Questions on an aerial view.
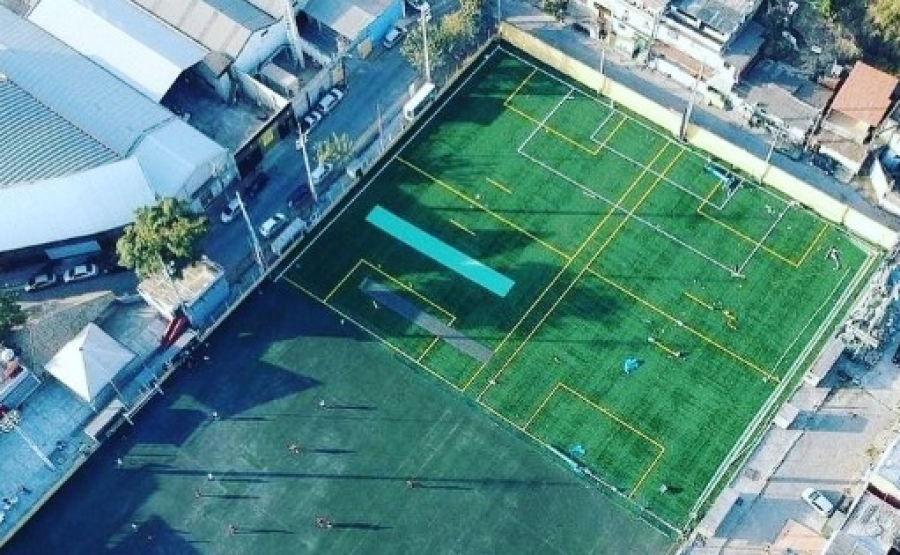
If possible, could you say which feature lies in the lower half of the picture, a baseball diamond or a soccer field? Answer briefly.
soccer field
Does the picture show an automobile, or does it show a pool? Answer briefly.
automobile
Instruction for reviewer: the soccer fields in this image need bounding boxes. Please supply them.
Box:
[1,276,684,555]
[272,44,888,548]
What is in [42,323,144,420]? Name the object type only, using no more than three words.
tent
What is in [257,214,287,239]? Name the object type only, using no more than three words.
car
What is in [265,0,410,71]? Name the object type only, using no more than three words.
building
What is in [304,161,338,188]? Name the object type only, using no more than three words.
truck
